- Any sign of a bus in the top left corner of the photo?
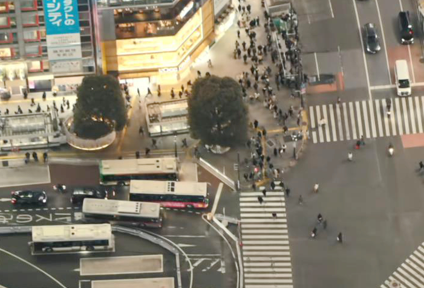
No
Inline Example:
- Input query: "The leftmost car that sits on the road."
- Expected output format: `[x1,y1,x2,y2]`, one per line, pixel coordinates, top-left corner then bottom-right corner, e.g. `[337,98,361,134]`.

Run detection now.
[11,189,48,206]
